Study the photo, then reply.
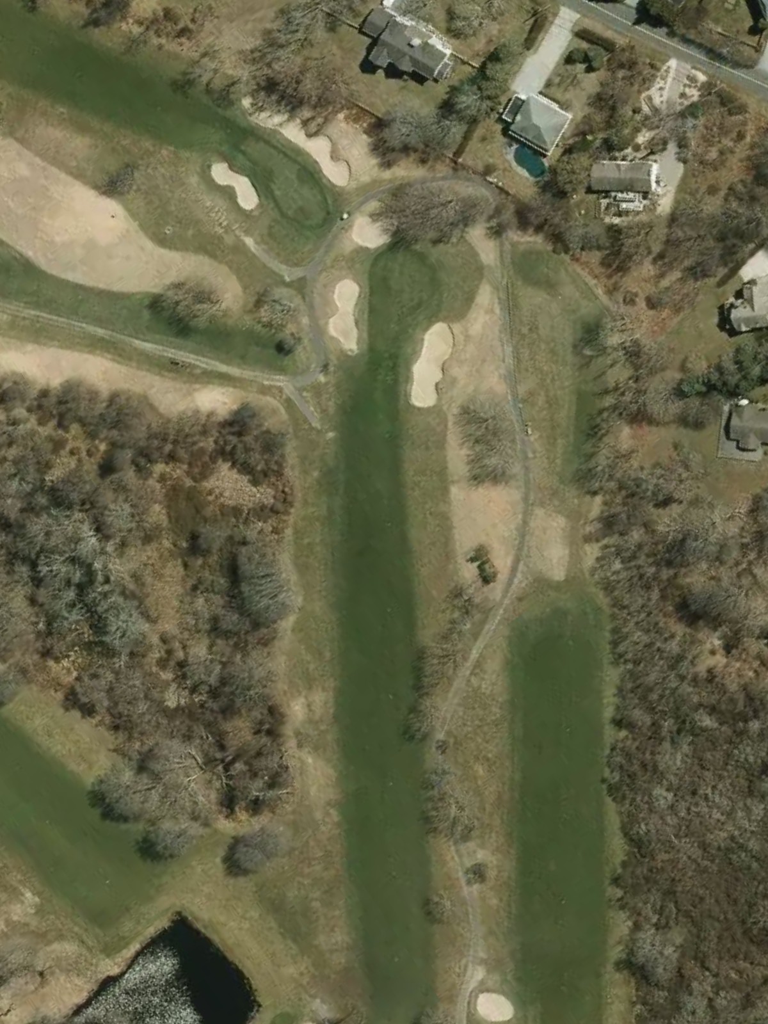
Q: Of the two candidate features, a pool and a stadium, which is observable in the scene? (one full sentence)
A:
The one in the frame is a pool.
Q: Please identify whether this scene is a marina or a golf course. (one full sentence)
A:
The area seen from above is a golf course.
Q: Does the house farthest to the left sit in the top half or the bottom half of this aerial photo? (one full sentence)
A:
It is in the top half that the house farthest to the left appears.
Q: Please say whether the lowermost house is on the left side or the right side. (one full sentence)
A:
You can find the lowermost house on the right side of the picture.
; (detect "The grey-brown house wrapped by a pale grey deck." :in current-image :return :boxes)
[717,404,768,462]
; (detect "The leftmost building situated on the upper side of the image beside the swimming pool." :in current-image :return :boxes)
[502,93,571,155]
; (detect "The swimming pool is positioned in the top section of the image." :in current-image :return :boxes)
[509,142,548,182]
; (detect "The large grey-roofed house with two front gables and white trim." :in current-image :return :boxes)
[363,7,452,79]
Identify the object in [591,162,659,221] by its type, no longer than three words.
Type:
house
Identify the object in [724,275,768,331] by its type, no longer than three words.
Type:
house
